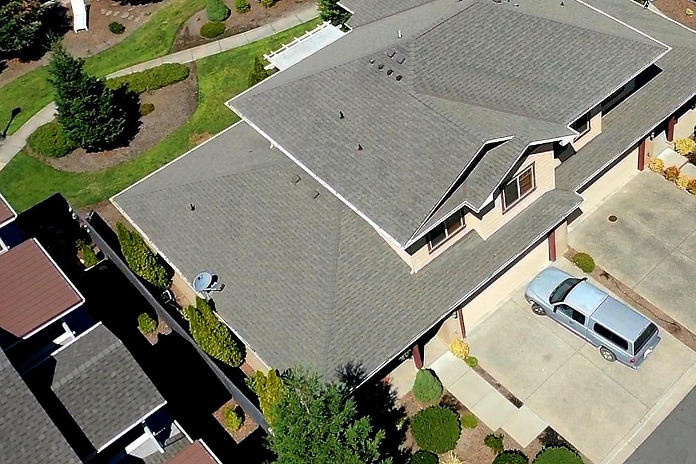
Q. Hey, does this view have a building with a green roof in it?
No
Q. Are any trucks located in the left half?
No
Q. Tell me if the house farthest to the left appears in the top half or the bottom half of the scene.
bottom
